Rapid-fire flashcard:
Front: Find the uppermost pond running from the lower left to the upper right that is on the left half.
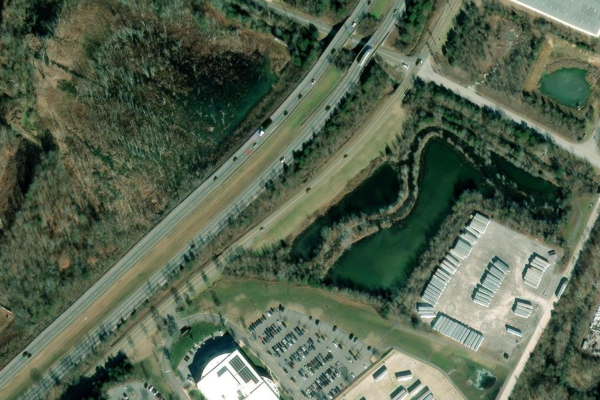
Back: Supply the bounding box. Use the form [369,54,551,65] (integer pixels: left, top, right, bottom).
[181,53,279,166]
